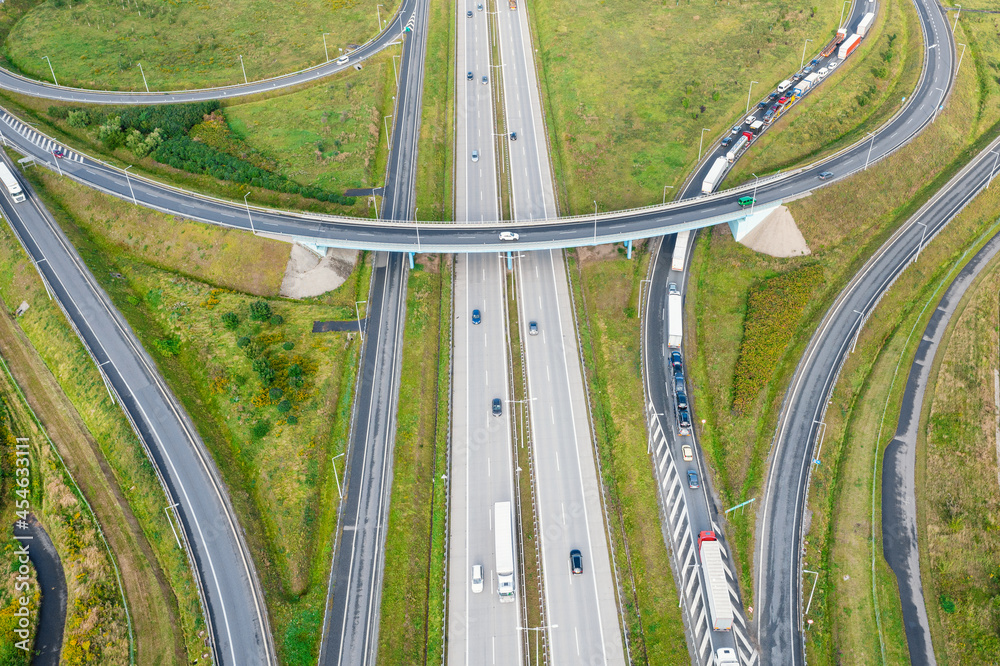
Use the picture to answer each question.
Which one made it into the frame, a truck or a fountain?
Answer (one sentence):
This aerial view contains a truck.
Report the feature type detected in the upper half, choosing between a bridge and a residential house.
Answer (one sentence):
The feature located in the upper half is a bridge.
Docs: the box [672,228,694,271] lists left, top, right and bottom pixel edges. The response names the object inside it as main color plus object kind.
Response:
white truck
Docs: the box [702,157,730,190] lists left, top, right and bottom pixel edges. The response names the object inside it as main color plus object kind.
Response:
white truck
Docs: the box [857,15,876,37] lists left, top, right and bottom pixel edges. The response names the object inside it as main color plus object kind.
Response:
white vehicle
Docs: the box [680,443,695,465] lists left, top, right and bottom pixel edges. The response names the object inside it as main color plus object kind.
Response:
white car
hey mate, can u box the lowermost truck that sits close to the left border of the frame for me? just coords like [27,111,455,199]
[0,164,25,204]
